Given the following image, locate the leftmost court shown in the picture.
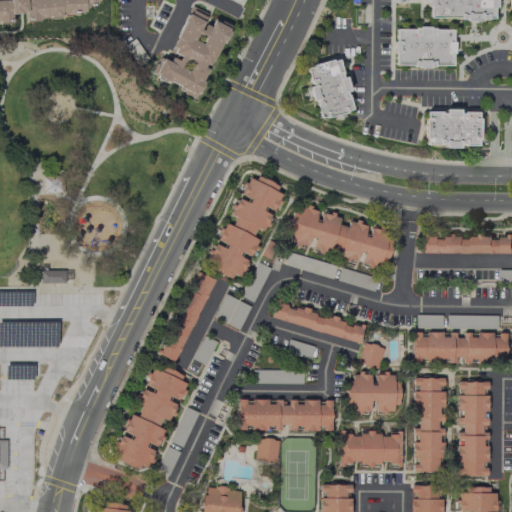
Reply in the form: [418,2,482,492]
[281,436,316,511]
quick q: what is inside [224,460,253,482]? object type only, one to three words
swimming pool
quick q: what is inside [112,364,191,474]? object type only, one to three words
building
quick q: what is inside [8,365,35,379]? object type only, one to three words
solar panel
